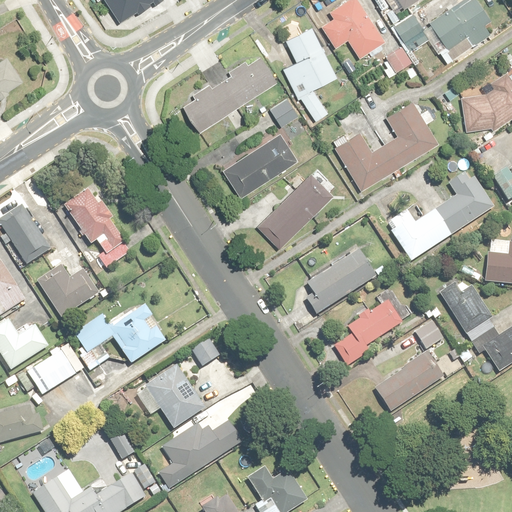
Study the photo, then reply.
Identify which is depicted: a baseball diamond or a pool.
pool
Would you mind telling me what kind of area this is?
residential area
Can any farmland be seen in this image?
No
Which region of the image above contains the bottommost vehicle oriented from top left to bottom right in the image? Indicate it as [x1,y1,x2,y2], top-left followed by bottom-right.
[115,460,128,476]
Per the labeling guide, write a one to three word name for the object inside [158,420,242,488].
house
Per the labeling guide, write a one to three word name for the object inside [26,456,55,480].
swimming pool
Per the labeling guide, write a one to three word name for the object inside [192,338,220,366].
building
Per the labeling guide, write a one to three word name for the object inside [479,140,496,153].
vehicle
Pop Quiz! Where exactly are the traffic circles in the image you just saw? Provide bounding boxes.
[88,68,128,108]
